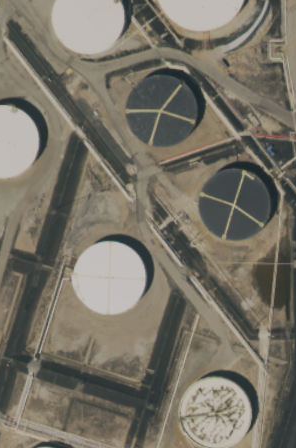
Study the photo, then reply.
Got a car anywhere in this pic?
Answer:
No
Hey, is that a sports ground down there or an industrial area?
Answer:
industrial area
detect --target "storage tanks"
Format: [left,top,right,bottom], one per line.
[72,240,146,316]
[197,168,270,242]
[51,0,125,56]
[156,0,244,33]
[124,74,198,148]
[178,376,252,448]
[0,104,40,180]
